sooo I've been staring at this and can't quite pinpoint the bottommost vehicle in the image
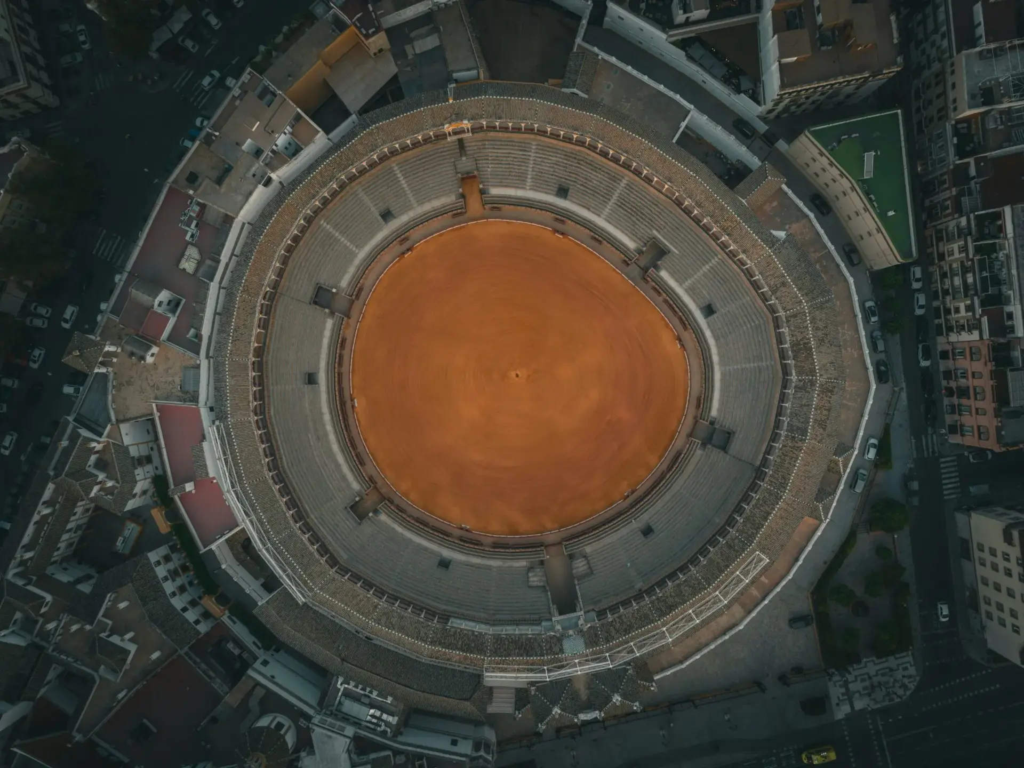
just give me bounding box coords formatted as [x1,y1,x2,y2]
[802,745,837,765]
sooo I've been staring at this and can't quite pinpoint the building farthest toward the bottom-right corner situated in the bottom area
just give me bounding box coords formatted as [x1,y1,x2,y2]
[954,500,1024,661]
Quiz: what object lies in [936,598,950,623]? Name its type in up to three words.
car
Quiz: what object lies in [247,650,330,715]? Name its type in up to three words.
house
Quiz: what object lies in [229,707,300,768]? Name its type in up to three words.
building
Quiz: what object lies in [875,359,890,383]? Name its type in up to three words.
car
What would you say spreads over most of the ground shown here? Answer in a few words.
buildings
